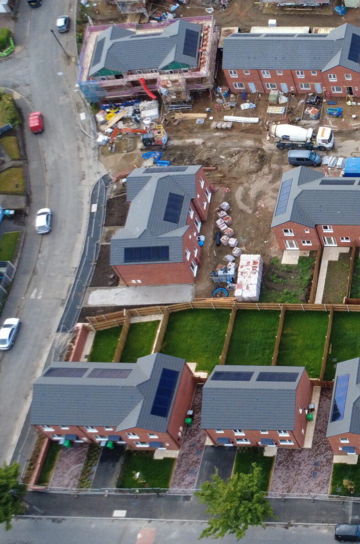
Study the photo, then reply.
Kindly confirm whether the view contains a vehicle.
Yes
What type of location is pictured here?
residential area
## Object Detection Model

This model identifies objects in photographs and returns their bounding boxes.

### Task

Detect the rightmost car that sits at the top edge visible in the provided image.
[56,15,71,33]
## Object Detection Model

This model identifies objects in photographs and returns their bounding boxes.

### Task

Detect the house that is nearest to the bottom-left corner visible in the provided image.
[31,350,193,450]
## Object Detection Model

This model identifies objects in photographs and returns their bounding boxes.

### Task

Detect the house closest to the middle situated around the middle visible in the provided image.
[115,176,212,283]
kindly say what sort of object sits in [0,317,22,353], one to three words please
car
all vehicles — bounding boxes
[0,317,22,353]
[56,15,71,33]
[28,0,41,8]
[332,523,360,544]
[28,112,45,135]
[284,148,323,166]
[36,207,54,237]
[265,129,332,155]
[111,123,172,147]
